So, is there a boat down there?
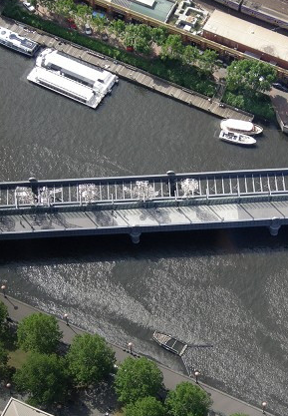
Yes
